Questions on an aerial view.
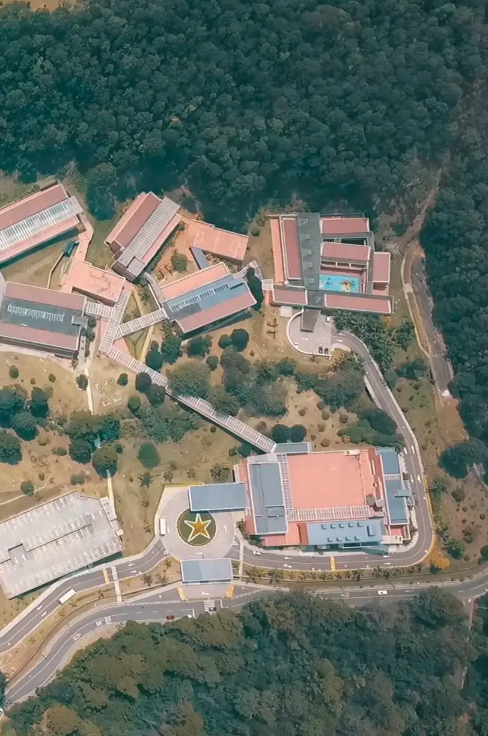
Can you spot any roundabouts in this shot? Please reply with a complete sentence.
Yes, this view includes a roundabout.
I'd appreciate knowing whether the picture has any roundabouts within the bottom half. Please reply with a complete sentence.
Yes, I can see a roundabout within the bottom half.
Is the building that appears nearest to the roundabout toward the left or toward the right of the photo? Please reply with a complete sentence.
The building that appears nearest to the roundabout is on the right side of the image.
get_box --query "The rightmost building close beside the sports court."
[265,209,393,318]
